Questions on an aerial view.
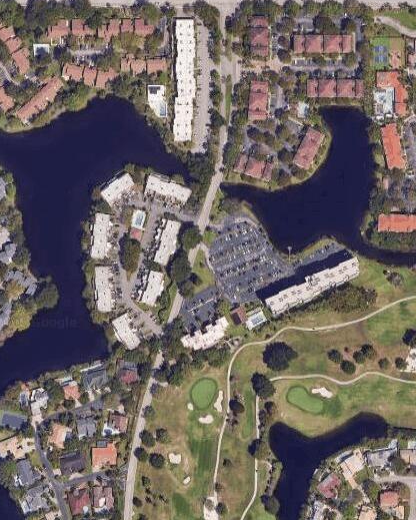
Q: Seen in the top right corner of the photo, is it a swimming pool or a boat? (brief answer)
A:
swimming pool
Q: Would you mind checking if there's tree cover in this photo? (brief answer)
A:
Yes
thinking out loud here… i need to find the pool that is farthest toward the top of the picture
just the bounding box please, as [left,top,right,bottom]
[34,44,50,58]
